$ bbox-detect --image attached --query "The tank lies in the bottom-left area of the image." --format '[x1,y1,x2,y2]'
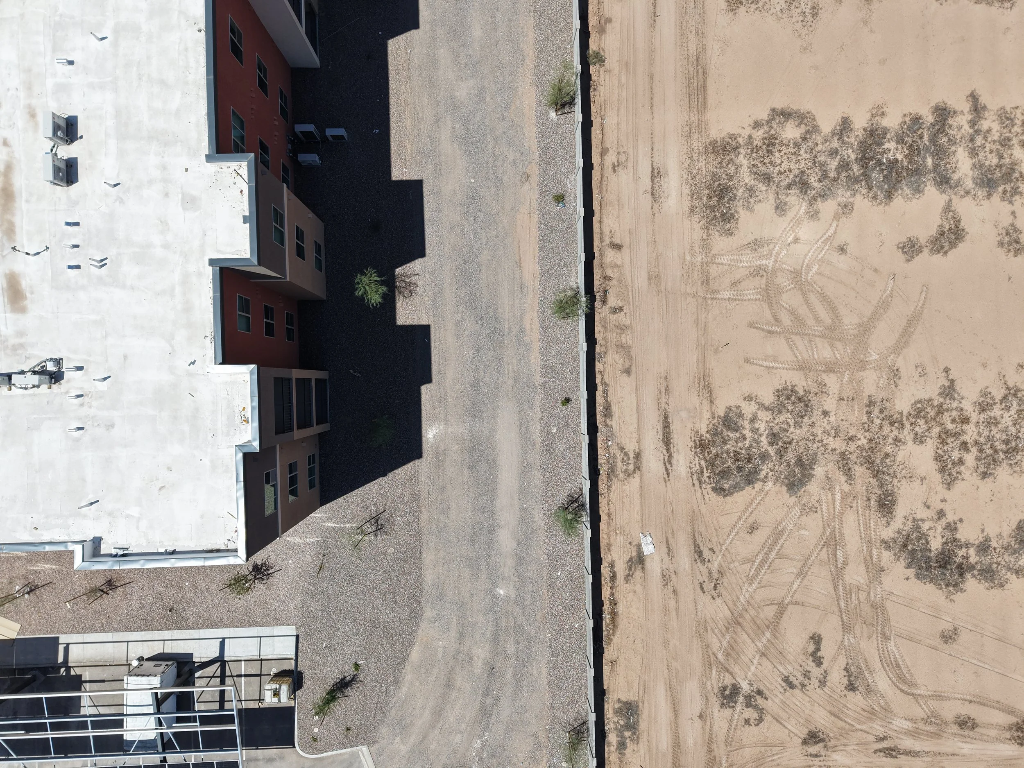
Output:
[264,676,295,704]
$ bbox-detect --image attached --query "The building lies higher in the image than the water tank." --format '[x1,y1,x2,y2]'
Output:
[0,0,330,571]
